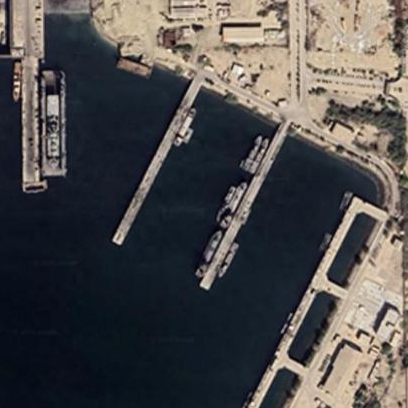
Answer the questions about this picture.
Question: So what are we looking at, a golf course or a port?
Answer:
port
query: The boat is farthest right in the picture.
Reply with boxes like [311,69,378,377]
[340,192,354,211]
